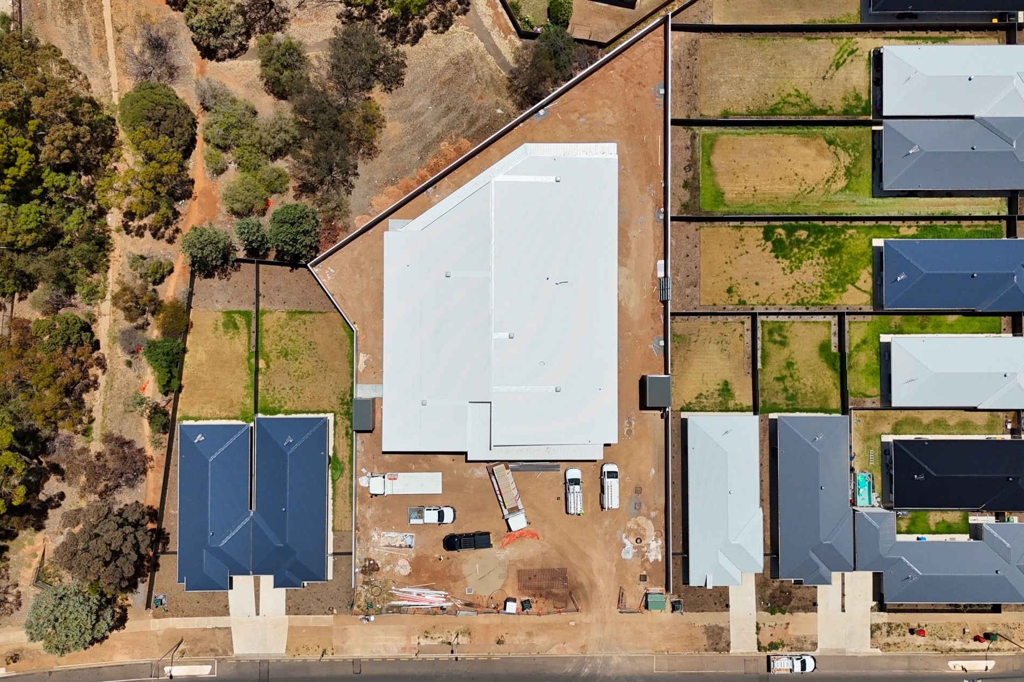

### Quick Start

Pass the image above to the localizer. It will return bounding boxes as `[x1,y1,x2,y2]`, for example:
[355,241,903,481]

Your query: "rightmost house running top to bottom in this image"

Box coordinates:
[776,415,854,586]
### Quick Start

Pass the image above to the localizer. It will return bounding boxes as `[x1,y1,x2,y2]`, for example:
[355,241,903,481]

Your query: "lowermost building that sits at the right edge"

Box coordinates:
[854,511,1024,604]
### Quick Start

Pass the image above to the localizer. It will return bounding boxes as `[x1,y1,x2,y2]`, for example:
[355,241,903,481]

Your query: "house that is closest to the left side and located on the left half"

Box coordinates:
[178,424,252,592]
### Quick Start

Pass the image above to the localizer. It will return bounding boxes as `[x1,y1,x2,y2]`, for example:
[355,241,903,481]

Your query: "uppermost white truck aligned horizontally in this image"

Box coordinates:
[368,472,442,498]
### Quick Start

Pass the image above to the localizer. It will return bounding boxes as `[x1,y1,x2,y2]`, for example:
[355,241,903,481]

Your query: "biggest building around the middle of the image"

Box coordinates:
[382,142,619,460]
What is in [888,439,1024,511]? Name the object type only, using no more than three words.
house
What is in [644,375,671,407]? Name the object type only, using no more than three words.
shed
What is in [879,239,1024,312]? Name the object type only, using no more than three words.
house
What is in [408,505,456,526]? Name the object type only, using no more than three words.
truck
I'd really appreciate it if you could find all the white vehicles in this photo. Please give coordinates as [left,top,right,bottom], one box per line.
[600,463,622,514]
[564,466,585,517]
[766,652,816,676]
[408,505,456,526]
[368,472,442,498]
[486,462,530,536]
